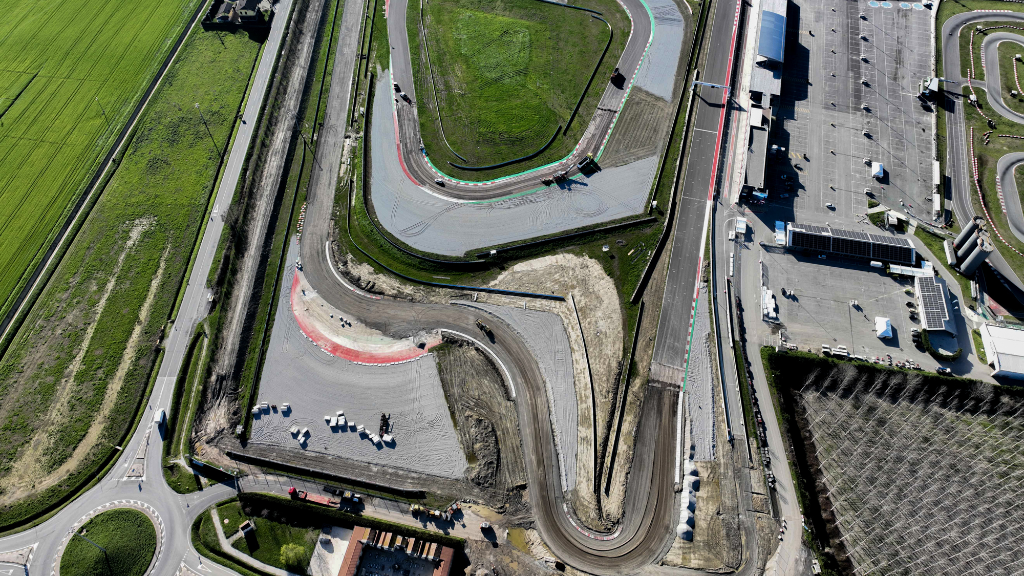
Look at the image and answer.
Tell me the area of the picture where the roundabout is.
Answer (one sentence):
The roundabout is located in the bottom left region of the scene.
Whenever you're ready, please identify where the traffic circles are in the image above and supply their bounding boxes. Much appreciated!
[45,500,169,576]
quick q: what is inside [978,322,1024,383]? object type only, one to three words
building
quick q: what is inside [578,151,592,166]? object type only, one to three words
vehicle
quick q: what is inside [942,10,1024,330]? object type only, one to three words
race track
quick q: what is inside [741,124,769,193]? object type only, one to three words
building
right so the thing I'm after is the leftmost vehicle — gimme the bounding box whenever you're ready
[151,409,167,432]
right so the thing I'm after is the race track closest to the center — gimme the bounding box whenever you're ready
[291,0,763,575]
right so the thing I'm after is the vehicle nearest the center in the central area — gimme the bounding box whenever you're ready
[475,317,490,331]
